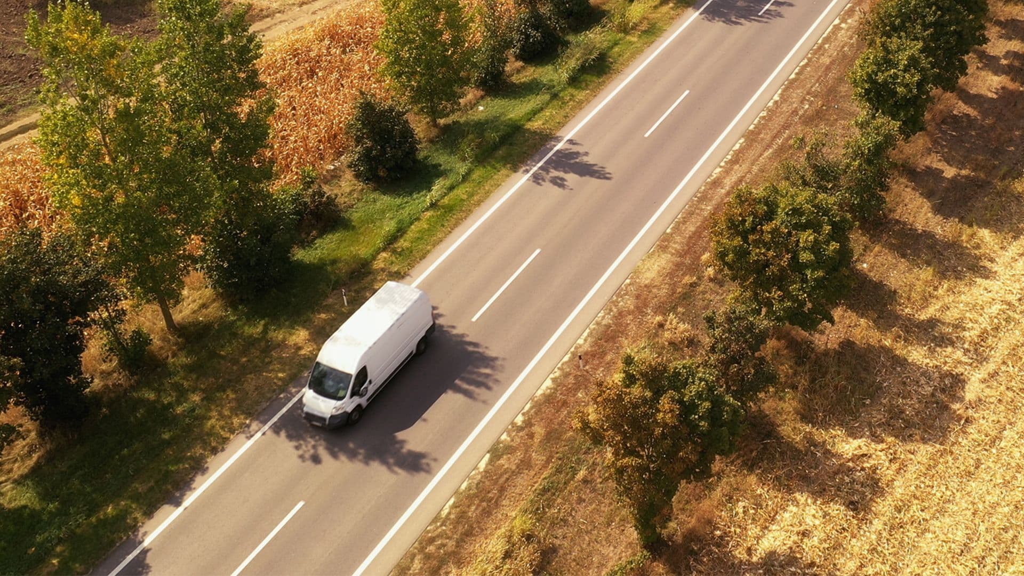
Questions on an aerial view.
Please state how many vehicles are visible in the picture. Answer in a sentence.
Just 1 vehicle appears in this view.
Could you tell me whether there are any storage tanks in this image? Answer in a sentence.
No, no storage tank can be seen from above.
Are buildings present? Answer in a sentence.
No, the photo shows no building.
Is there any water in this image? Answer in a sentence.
No, water can't be seen anywhere here.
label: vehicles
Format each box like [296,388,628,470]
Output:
[296,279,436,434]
